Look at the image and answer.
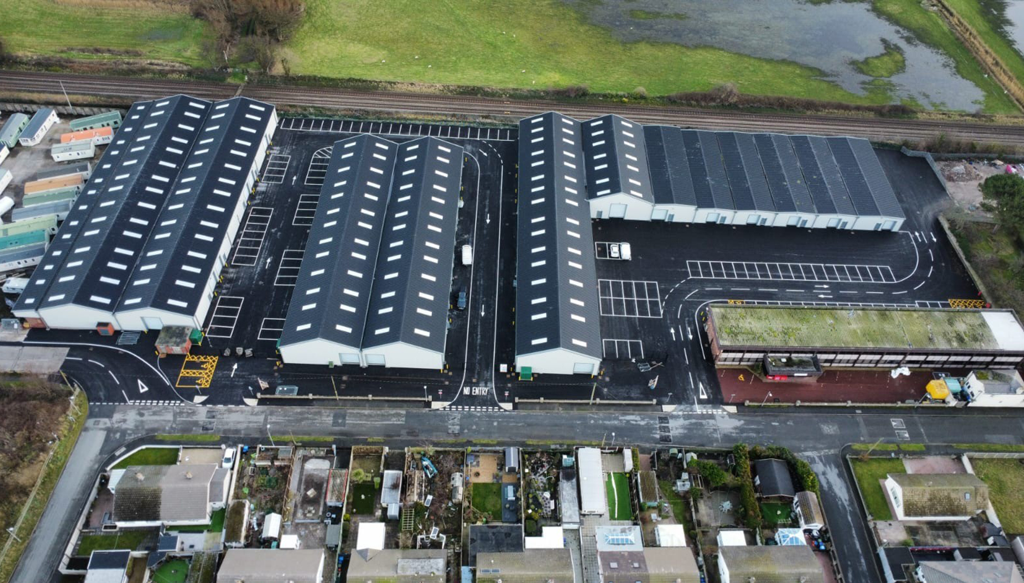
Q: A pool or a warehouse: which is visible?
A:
warehouse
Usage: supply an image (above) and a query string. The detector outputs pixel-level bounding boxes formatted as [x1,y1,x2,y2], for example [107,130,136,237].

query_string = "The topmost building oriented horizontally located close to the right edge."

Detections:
[707,304,1024,379]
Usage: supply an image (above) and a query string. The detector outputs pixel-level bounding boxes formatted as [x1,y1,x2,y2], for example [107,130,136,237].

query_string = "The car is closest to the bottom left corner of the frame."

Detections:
[219,446,236,469]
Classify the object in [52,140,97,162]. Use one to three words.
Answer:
camper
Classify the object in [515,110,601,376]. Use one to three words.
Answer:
building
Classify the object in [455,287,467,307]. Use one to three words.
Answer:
vehicle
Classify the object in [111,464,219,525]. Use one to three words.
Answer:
house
